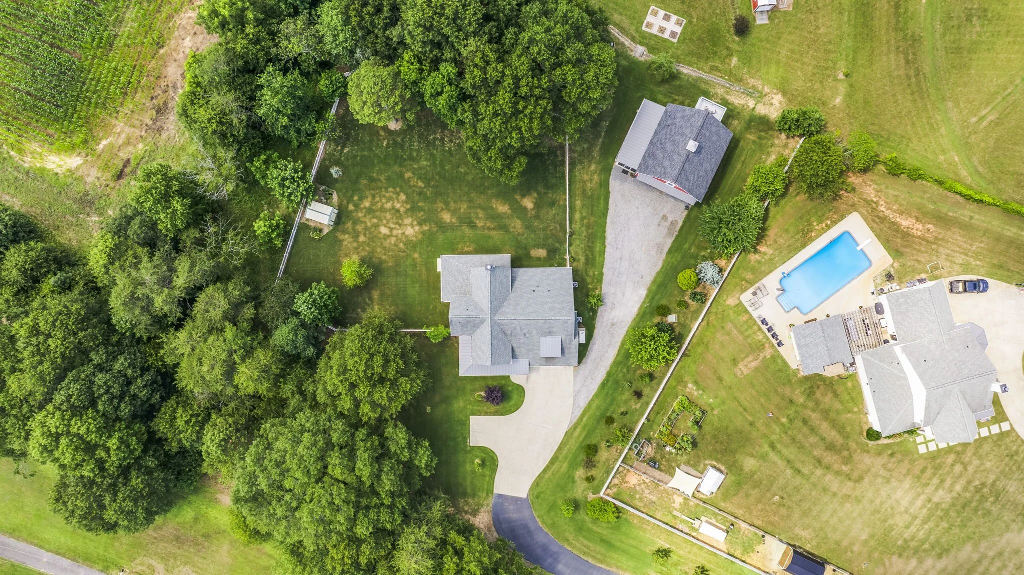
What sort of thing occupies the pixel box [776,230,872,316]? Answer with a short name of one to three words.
swimming pool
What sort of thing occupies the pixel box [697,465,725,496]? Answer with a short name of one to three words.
shed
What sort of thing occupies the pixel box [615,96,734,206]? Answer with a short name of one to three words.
barn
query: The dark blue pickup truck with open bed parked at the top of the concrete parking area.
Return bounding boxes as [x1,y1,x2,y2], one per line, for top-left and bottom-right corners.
[946,278,988,295]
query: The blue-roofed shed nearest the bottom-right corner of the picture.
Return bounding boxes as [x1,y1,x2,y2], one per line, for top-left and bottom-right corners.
[779,546,829,575]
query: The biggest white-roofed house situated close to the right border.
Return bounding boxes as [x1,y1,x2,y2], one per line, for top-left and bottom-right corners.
[854,278,1011,444]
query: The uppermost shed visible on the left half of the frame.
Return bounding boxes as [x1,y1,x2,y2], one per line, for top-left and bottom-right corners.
[305,201,338,225]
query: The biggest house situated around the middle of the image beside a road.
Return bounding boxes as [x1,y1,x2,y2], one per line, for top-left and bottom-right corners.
[438,254,579,376]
